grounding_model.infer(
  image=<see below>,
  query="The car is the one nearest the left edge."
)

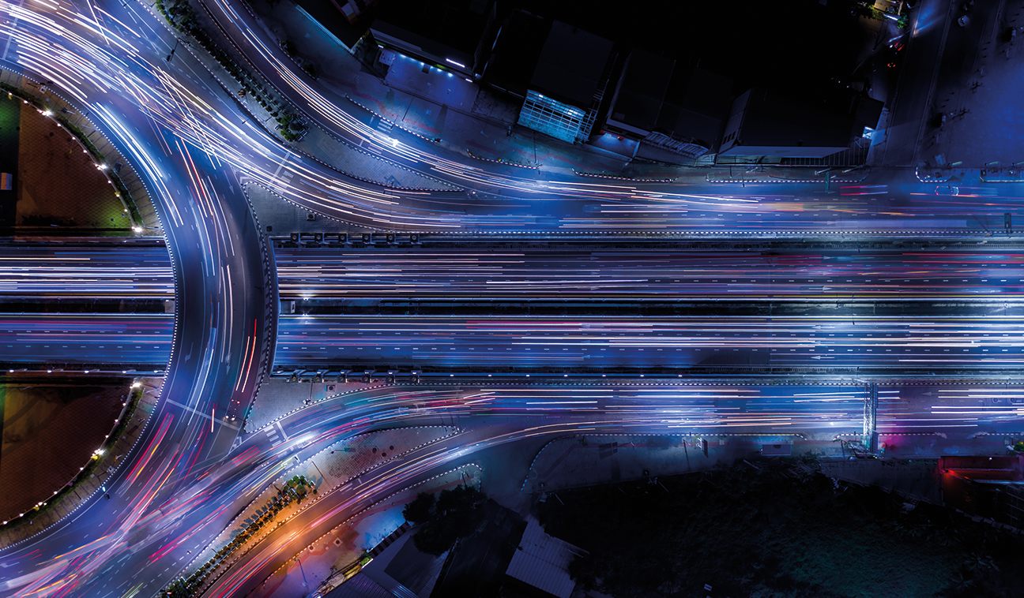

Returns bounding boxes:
[224,399,239,422]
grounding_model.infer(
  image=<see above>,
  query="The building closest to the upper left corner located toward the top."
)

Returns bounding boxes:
[294,0,378,65]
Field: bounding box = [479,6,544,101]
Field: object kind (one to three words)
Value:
building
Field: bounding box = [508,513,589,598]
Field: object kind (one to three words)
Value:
shed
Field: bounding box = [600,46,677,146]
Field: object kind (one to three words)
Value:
building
